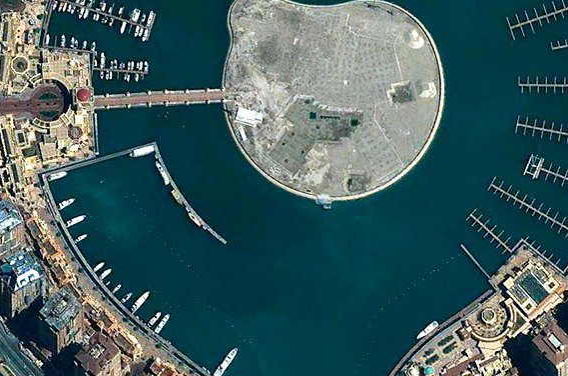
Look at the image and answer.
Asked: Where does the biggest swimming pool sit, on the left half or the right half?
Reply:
right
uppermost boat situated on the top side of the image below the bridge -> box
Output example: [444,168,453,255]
[132,142,157,156]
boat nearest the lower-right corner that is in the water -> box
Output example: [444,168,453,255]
[420,321,440,337]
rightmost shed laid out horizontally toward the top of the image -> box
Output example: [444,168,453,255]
[234,108,263,126]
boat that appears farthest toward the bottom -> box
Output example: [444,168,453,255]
[214,351,234,376]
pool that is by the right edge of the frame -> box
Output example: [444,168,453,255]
[520,275,549,305]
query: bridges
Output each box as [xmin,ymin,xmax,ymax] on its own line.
[91,86,228,109]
